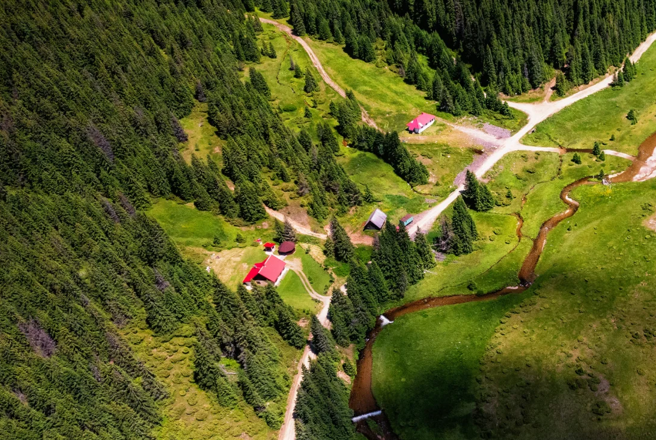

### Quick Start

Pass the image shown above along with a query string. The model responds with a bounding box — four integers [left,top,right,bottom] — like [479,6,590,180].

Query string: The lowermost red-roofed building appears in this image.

[241,253,287,285]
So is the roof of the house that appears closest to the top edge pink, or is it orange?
pink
